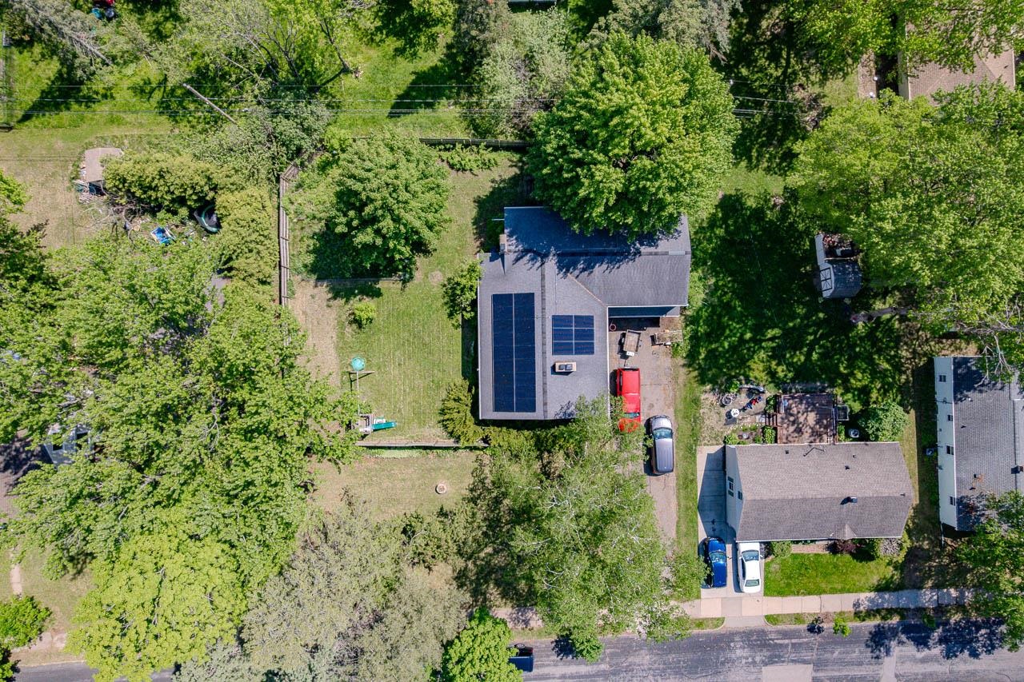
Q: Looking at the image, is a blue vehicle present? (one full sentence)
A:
Yes, this view includes a blue vehicle.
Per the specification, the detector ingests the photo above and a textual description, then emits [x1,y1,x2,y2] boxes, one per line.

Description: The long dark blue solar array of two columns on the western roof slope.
[492,293,535,412]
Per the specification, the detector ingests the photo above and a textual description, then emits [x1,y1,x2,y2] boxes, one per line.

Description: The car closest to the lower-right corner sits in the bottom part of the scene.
[736,542,765,599]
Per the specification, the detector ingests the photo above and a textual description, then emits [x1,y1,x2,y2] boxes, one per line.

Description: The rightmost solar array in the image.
[553,315,594,355]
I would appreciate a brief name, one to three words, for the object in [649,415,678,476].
van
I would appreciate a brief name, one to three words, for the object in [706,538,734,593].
car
